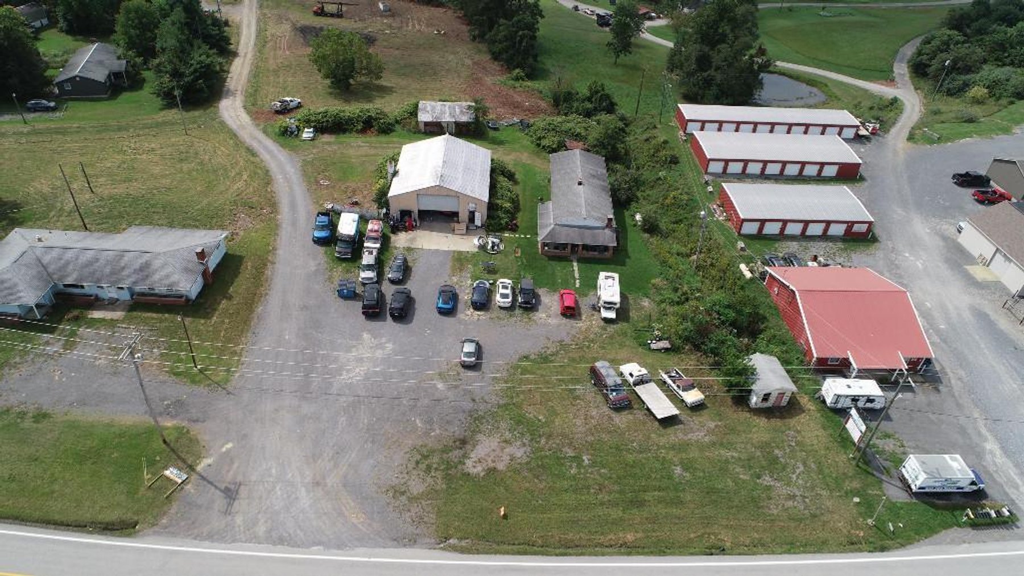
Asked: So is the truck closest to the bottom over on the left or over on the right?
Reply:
right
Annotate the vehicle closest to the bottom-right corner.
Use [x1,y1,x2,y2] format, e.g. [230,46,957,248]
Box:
[888,458,987,501]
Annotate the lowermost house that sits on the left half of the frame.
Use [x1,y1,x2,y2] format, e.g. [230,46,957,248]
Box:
[0,227,234,330]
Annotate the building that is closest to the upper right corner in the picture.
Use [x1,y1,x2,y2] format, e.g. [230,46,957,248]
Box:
[976,134,1024,198]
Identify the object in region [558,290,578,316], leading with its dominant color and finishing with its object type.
red car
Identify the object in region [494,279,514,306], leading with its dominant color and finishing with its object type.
white car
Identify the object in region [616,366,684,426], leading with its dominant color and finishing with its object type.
white truck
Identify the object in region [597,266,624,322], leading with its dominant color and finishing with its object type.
white camper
